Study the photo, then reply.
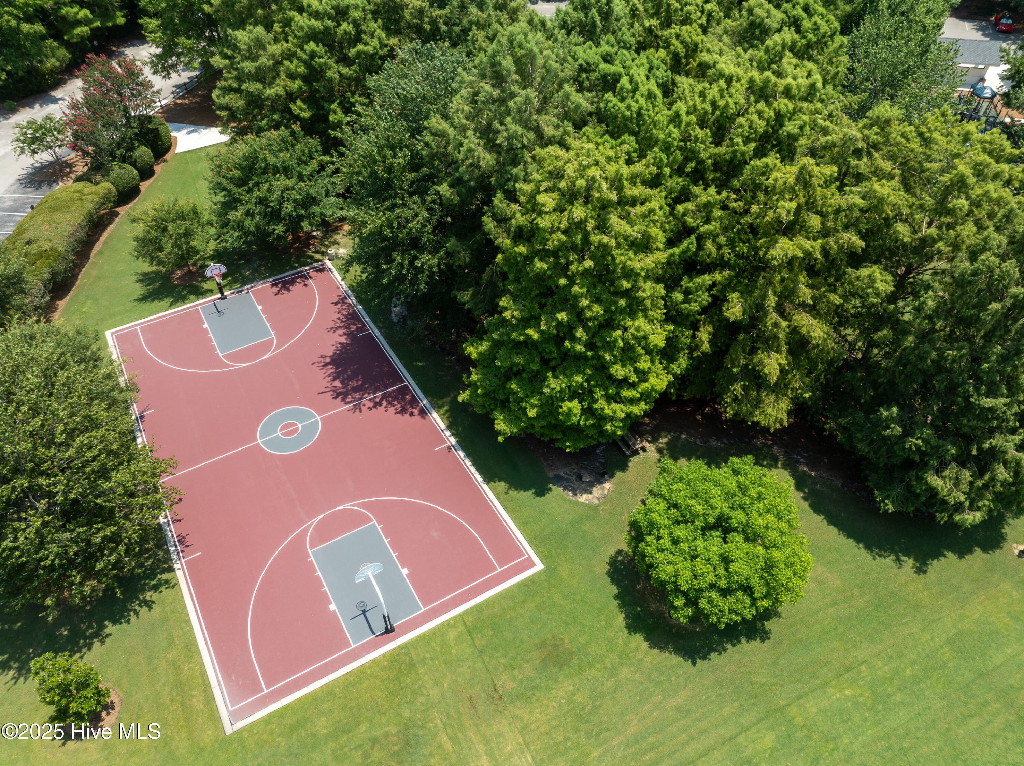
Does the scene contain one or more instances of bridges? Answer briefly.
No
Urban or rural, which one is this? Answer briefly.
rural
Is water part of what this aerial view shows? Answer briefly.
No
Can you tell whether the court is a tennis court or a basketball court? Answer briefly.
basketball court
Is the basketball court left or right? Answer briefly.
left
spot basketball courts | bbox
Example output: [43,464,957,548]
[104,259,543,735]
